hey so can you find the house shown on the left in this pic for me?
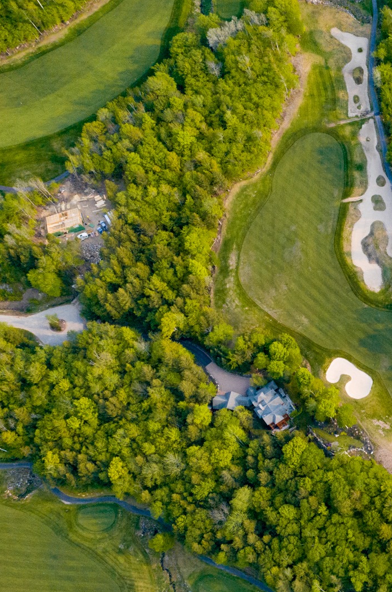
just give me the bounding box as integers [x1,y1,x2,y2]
[46,209,85,240]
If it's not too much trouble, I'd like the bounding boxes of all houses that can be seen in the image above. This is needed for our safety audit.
[46,209,85,240]
[211,380,298,433]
